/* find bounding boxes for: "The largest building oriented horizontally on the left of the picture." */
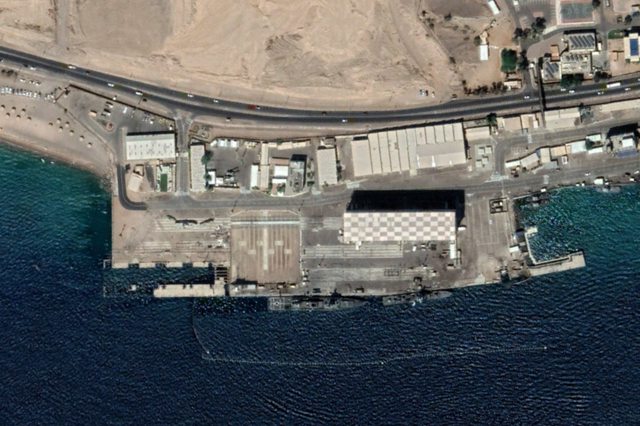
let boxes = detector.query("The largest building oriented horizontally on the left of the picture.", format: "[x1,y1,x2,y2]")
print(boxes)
[126,134,175,161]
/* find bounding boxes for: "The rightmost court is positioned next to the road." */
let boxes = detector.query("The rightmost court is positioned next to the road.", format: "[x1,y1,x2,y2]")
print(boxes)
[558,0,594,25]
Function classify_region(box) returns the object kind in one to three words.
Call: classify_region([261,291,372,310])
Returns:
ship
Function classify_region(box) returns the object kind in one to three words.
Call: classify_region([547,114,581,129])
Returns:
shed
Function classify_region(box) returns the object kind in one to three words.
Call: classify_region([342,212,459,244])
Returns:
building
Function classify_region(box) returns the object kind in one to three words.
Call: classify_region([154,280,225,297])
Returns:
pier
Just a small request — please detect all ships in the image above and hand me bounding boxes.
[382,285,452,306]
[261,291,372,310]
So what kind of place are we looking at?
port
